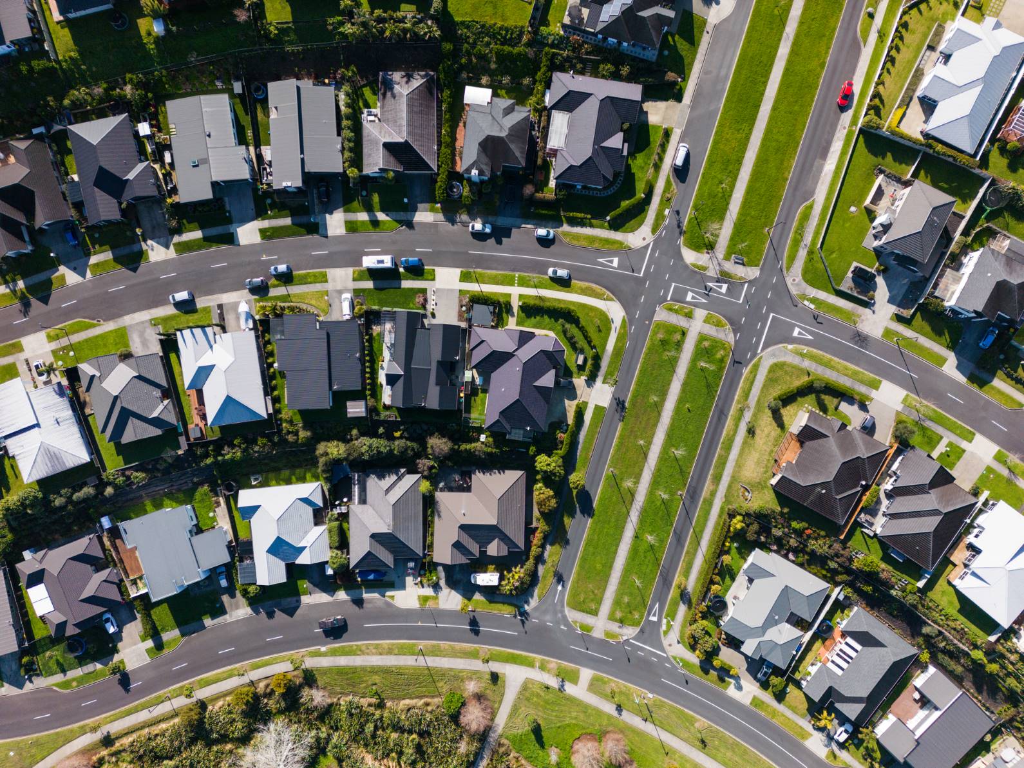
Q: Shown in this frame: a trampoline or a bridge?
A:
trampoline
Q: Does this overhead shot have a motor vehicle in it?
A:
Yes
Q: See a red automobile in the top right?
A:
Yes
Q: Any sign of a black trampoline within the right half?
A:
Yes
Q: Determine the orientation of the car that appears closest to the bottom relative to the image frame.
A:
on a diagonal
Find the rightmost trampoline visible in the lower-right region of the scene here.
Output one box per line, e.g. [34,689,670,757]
[817,620,838,641]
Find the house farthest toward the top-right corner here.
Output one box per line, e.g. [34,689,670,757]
[914,15,1024,154]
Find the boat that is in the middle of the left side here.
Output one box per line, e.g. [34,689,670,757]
[238,299,253,331]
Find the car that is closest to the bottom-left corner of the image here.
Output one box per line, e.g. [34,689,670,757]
[102,610,119,636]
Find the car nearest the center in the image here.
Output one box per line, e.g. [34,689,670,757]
[554,376,578,388]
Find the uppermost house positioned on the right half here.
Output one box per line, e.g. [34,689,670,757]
[562,0,676,57]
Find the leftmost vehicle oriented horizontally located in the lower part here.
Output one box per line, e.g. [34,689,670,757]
[317,615,347,631]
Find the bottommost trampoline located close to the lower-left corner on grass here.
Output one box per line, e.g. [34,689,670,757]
[60,637,86,659]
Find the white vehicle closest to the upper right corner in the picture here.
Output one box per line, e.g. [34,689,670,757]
[672,143,688,170]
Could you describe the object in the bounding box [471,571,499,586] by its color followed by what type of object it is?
white camper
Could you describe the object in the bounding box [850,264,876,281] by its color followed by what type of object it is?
black car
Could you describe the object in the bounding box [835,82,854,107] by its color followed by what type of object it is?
red car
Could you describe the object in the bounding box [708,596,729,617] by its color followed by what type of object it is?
black trampoline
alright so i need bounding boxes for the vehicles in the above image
[857,409,875,434]
[554,376,578,388]
[102,610,119,636]
[244,277,268,290]
[317,615,347,631]
[171,292,194,304]
[363,255,396,269]
[832,717,854,745]
[468,224,492,234]
[533,229,555,240]
[399,256,423,268]
[850,264,876,281]
[835,82,854,107]
[756,660,773,685]
[268,263,293,275]
[341,294,353,318]
[471,571,499,586]
[216,565,231,589]
[32,358,49,382]
[546,268,571,279]
[672,143,688,170]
